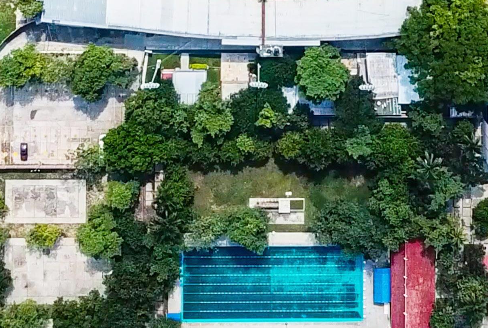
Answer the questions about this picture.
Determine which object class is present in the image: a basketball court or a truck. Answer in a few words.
basketball court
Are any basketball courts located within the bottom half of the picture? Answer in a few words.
Yes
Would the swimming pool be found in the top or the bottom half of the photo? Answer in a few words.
bottom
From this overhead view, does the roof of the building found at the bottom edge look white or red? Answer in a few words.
red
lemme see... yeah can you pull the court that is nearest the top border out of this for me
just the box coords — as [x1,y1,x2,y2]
[5,179,86,223]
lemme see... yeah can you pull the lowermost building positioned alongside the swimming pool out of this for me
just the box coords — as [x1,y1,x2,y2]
[391,240,434,328]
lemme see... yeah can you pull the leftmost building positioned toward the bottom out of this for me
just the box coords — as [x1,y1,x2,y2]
[250,197,305,224]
